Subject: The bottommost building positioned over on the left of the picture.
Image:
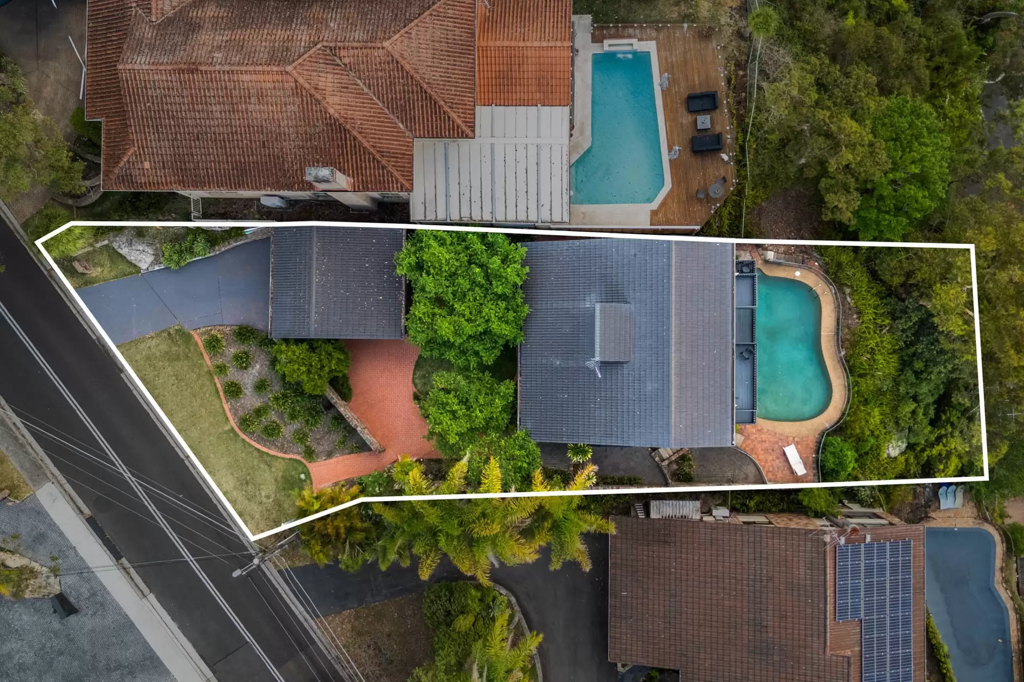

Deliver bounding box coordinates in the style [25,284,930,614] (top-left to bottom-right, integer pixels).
[267,223,408,339]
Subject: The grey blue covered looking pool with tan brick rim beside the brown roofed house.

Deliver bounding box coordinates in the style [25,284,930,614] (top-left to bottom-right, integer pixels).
[920,521,1023,682]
